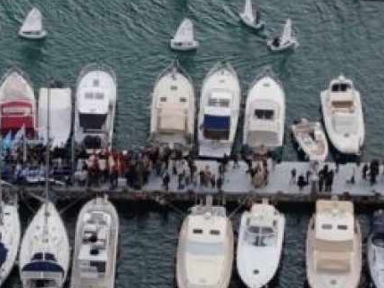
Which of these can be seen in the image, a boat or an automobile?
boat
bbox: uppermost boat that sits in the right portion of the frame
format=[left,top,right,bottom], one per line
[240,0,267,30]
